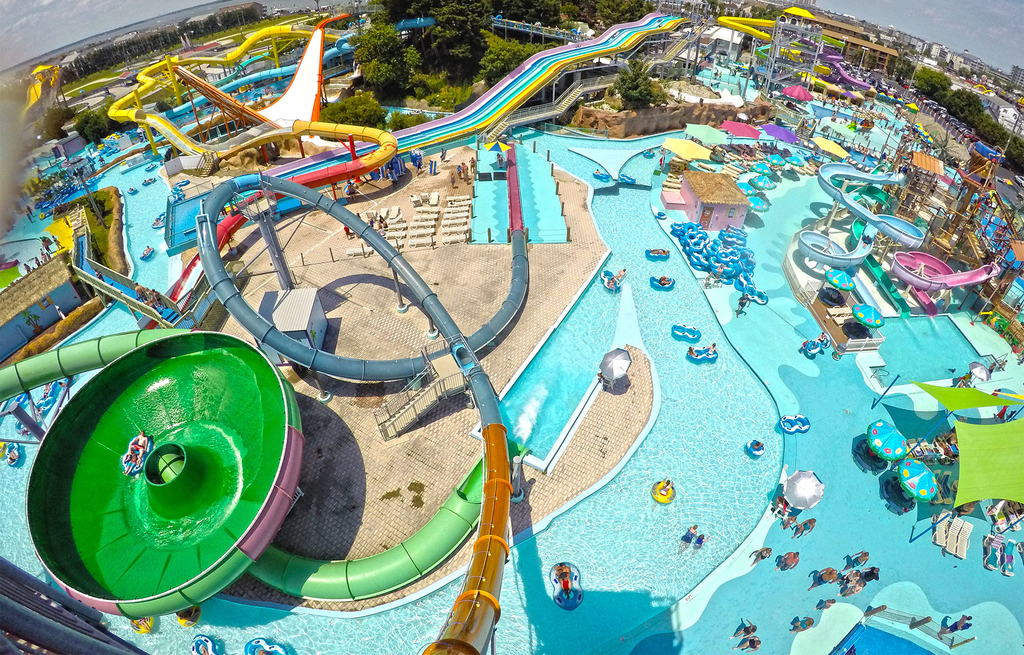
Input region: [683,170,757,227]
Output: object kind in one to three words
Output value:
shed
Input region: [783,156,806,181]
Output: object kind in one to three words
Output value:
umbrella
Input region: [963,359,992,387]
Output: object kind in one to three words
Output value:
umbrella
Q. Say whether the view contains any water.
Yes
